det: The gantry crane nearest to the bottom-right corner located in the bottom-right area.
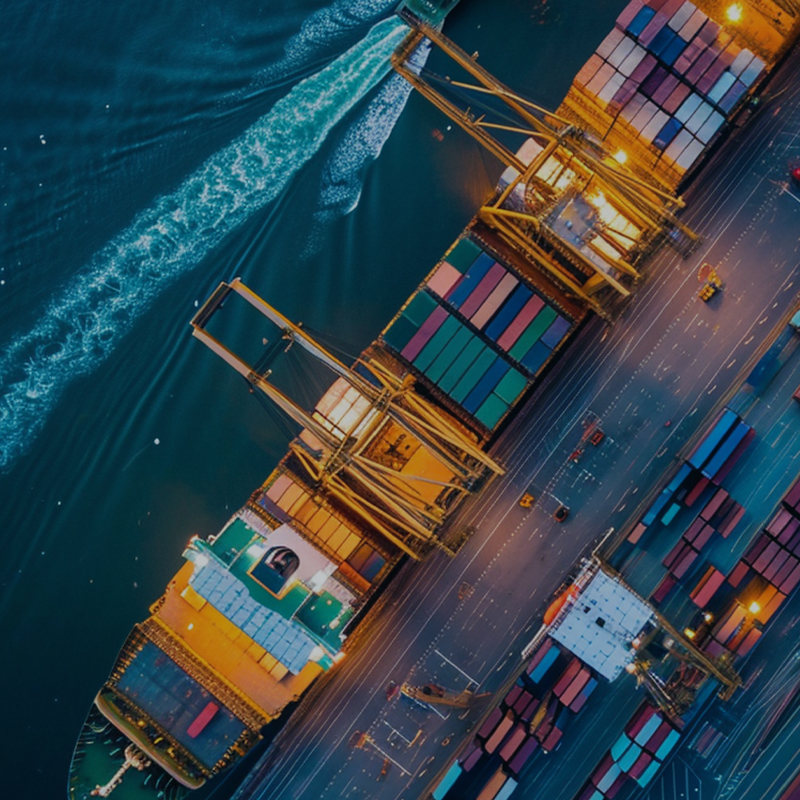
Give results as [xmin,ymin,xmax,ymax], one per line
[588,543,744,735]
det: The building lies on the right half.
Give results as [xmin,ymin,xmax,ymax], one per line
[528,523,655,683]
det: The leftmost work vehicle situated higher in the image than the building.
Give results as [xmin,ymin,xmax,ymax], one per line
[521,487,534,509]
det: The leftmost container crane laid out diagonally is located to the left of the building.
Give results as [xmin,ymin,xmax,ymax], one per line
[188,276,511,573]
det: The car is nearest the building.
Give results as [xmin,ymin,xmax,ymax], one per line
[552,504,570,526]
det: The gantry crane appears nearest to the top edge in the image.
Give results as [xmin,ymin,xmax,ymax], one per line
[388,21,696,344]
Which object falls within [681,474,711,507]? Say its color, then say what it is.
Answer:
red shipping container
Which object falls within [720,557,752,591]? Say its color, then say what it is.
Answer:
red shipping container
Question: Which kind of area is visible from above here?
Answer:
port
